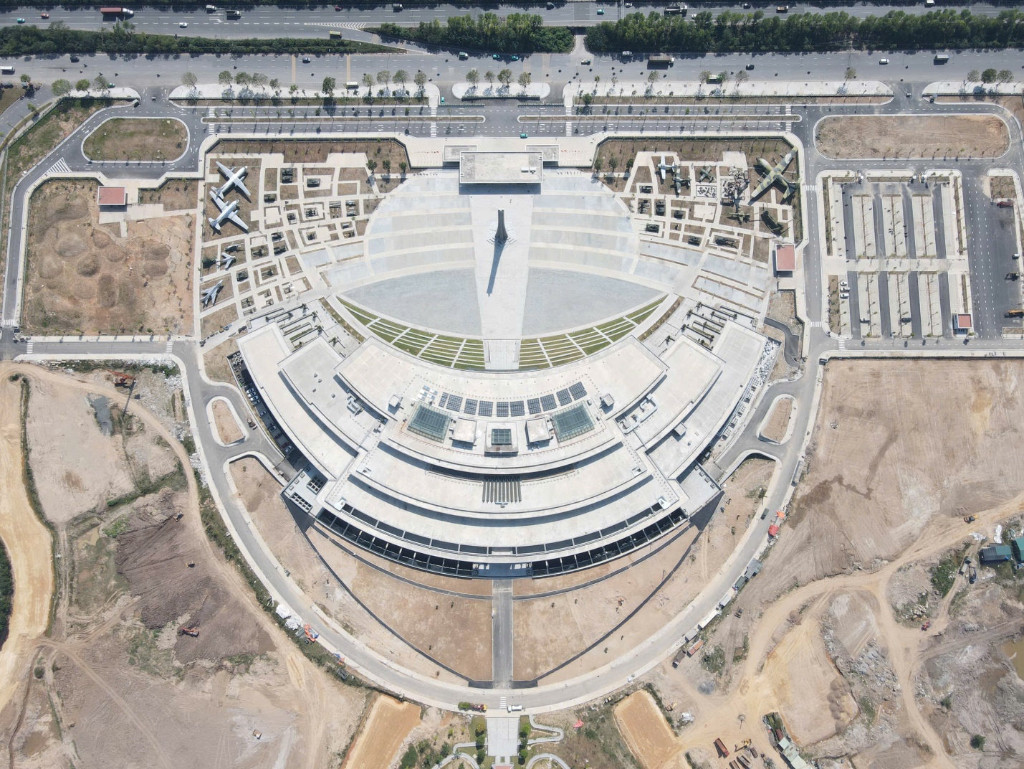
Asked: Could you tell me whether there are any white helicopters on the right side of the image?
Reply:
No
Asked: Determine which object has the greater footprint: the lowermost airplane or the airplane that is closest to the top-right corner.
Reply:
the airplane that is closest to the top-right corner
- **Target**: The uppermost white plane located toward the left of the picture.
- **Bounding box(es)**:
[214,159,253,196]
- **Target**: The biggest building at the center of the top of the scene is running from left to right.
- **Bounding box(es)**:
[459,151,543,187]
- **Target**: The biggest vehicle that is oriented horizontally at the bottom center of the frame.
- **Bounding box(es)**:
[458,703,487,716]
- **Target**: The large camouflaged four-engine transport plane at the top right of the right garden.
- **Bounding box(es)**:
[750,144,802,196]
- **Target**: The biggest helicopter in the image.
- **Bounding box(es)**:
[759,201,794,238]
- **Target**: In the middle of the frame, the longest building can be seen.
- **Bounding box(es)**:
[236,322,768,578]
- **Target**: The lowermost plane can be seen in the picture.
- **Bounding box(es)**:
[198,280,223,304]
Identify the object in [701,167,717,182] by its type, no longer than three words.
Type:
airplane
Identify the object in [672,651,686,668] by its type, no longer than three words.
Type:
vehicle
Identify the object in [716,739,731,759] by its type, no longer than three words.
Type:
vehicle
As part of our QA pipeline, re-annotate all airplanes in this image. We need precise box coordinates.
[735,182,750,204]
[215,250,235,268]
[209,191,246,228]
[730,207,751,223]
[673,167,692,191]
[701,167,717,182]
[214,159,253,196]
[658,153,677,178]
[750,144,802,196]
[198,280,223,304]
